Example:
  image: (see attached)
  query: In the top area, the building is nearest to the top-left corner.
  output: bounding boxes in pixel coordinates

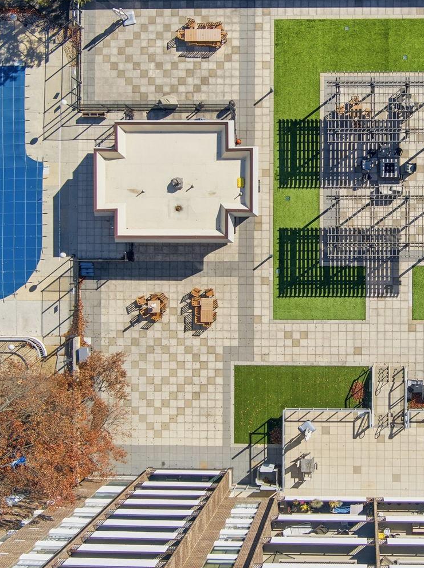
[94,122,259,241]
